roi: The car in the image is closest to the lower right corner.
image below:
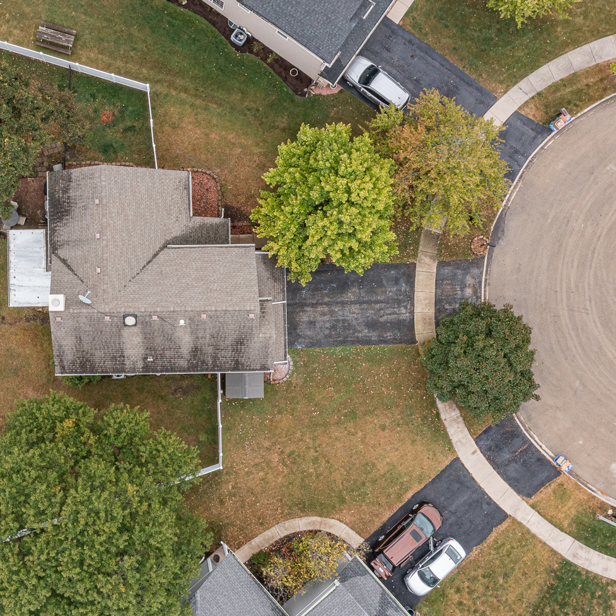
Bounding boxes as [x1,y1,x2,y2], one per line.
[404,538,468,597]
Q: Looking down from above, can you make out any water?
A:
No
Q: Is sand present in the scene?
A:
No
